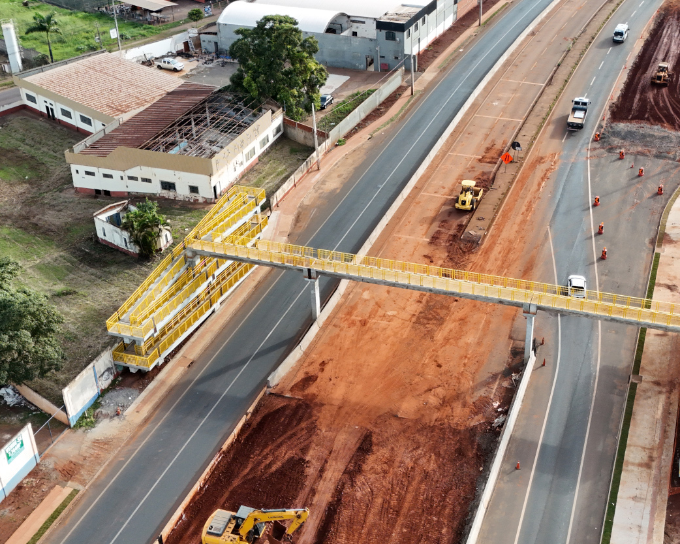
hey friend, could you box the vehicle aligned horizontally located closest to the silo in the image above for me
[153,57,187,72]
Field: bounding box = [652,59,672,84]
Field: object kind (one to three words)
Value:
work vehicle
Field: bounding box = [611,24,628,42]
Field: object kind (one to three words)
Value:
vehicle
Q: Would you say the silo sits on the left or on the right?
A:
left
